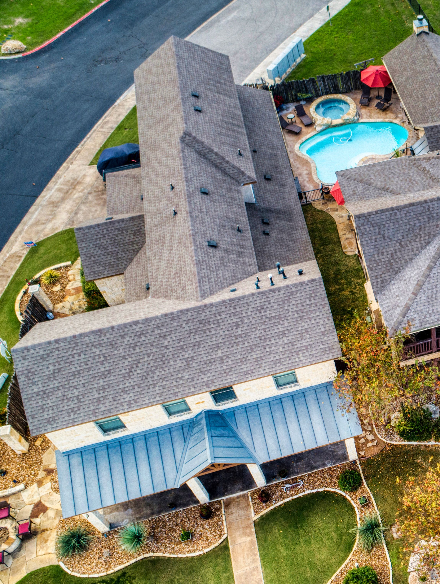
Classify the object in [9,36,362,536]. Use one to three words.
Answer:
house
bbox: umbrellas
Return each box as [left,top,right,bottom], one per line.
[360,66,390,100]
[325,178,345,206]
